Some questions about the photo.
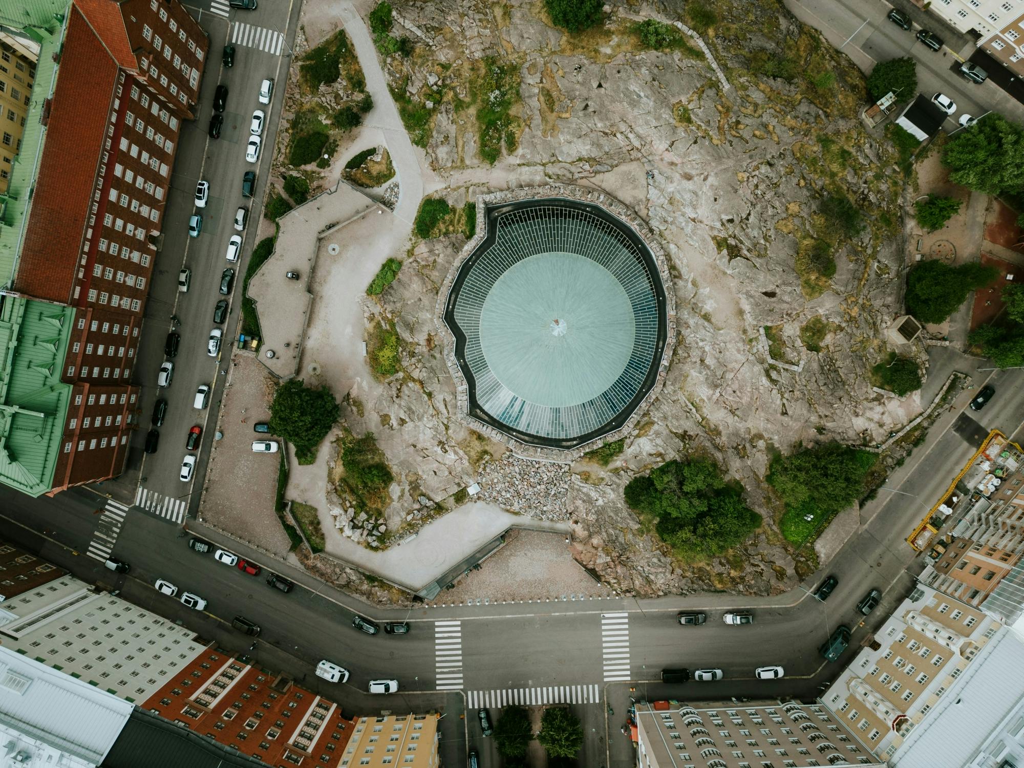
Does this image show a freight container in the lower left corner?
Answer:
No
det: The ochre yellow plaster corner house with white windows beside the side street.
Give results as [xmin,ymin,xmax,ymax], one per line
[338,713,439,768]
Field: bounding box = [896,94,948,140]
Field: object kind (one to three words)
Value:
shed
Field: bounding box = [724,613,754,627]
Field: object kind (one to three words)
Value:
vehicle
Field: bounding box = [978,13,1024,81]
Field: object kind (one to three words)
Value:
building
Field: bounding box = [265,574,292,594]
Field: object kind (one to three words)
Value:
car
